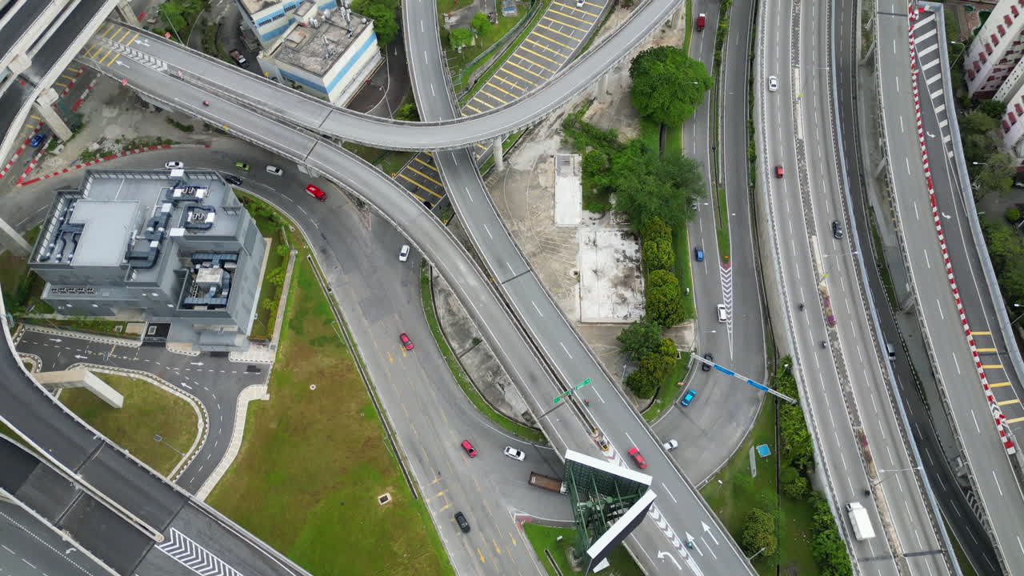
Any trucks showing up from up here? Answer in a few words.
Yes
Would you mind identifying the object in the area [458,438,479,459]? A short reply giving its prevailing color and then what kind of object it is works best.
red car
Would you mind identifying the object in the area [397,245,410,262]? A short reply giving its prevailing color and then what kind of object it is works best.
white vehicle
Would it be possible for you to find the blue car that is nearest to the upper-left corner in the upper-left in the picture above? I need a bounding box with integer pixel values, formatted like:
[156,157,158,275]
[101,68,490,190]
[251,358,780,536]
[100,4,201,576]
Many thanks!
[29,133,46,147]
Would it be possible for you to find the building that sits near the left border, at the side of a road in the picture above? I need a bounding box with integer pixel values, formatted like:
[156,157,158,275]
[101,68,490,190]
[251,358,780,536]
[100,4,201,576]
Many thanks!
[25,167,270,356]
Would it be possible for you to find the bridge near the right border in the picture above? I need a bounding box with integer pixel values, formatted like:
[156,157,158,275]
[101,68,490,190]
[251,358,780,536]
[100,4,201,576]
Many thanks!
[861,0,1024,576]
